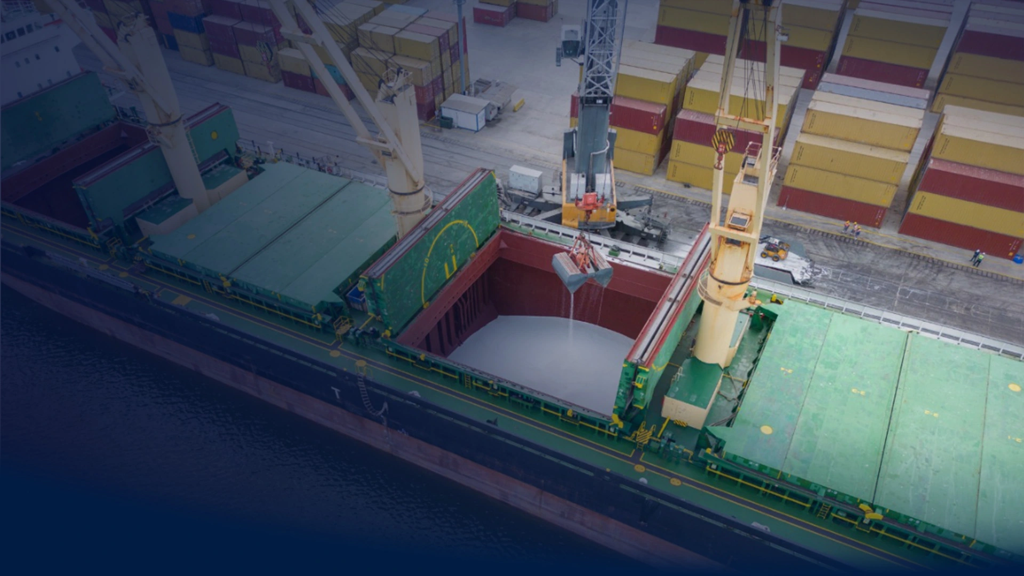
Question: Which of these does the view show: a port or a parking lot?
port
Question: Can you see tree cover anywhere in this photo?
No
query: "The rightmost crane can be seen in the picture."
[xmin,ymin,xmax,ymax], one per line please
[688,0,794,366]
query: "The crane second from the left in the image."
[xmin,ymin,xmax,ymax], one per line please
[263,0,437,242]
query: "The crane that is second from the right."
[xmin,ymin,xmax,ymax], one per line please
[498,0,671,255]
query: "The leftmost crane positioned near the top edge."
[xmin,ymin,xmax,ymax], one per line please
[47,0,213,212]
